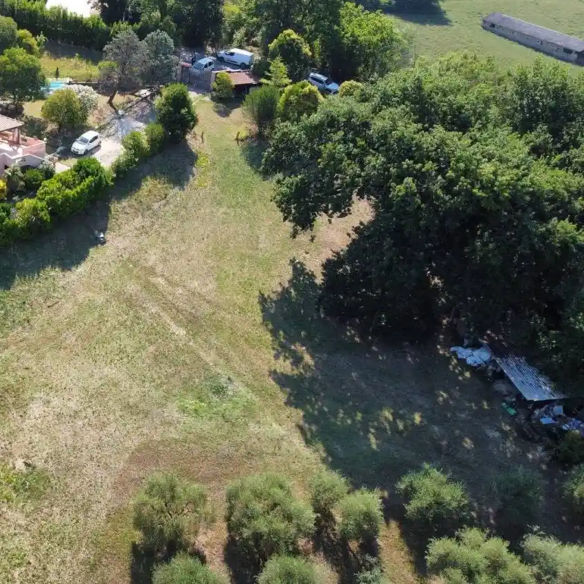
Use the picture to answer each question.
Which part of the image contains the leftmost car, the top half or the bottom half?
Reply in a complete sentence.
You can find the leftmost car in the top half.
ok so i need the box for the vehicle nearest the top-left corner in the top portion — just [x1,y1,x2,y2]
[72,124,105,151]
